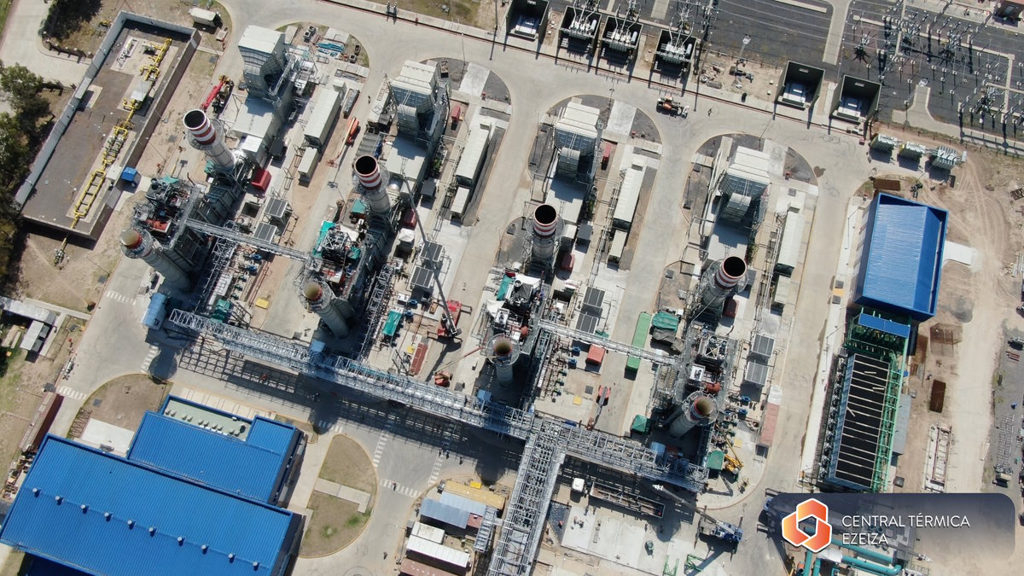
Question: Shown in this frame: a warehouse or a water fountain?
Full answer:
The one in the frame is a warehouse.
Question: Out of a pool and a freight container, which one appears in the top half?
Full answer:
Visible in the top half is a freight container.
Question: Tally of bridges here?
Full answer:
The number of bridges here is 2.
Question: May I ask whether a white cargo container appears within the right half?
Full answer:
Yes, the scene does show a white cargo container within the right half.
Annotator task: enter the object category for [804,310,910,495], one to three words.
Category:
cooling tower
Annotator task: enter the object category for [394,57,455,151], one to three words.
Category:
house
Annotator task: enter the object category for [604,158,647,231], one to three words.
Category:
shipping container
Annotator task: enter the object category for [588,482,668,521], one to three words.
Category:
trailer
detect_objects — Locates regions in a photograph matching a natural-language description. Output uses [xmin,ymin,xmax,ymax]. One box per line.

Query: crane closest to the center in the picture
[400,169,468,347]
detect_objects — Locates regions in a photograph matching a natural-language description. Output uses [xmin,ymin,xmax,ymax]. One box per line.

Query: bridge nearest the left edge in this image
[186,218,320,285]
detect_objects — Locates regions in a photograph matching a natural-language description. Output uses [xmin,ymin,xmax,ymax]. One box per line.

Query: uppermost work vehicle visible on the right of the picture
[661,97,691,113]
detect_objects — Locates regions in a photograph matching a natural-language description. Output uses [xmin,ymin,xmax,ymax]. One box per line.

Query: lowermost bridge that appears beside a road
[536,319,681,378]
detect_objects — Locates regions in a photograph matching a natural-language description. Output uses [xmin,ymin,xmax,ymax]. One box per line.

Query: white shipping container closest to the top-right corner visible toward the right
[763,199,806,274]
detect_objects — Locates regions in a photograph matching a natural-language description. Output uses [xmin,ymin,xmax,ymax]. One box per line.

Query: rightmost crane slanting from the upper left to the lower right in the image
[651,483,752,551]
